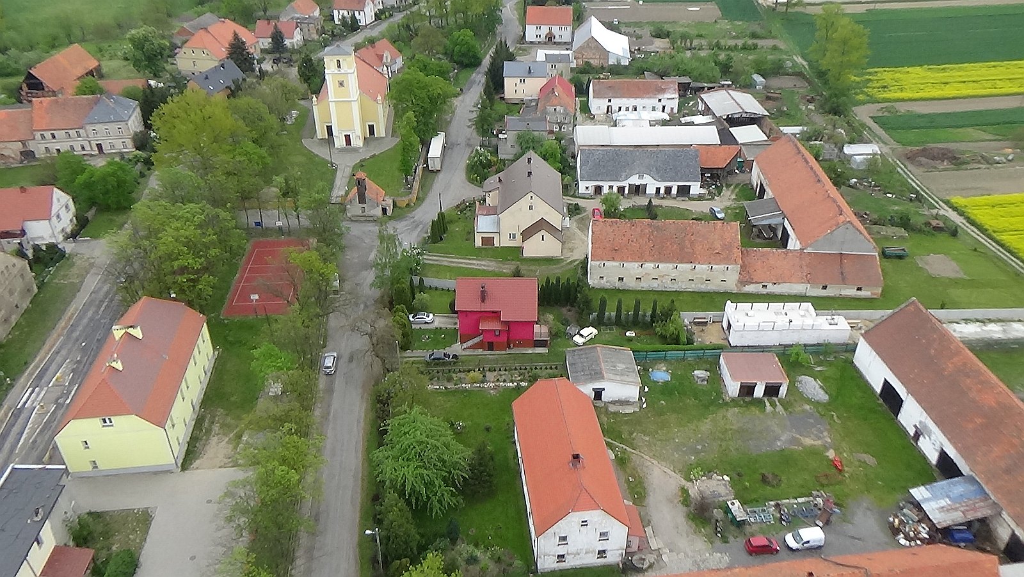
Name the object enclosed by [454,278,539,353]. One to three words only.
house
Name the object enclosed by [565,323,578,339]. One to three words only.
vehicle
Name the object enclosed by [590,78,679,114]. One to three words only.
building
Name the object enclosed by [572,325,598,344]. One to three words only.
car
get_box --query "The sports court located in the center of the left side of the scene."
[222,237,312,315]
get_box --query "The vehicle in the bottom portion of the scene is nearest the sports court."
[323,355,338,376]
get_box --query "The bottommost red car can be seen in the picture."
[744,537,782,554]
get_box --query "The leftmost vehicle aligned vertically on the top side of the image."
[428,127,449,168]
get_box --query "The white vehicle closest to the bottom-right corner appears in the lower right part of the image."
[784,524,828,552]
